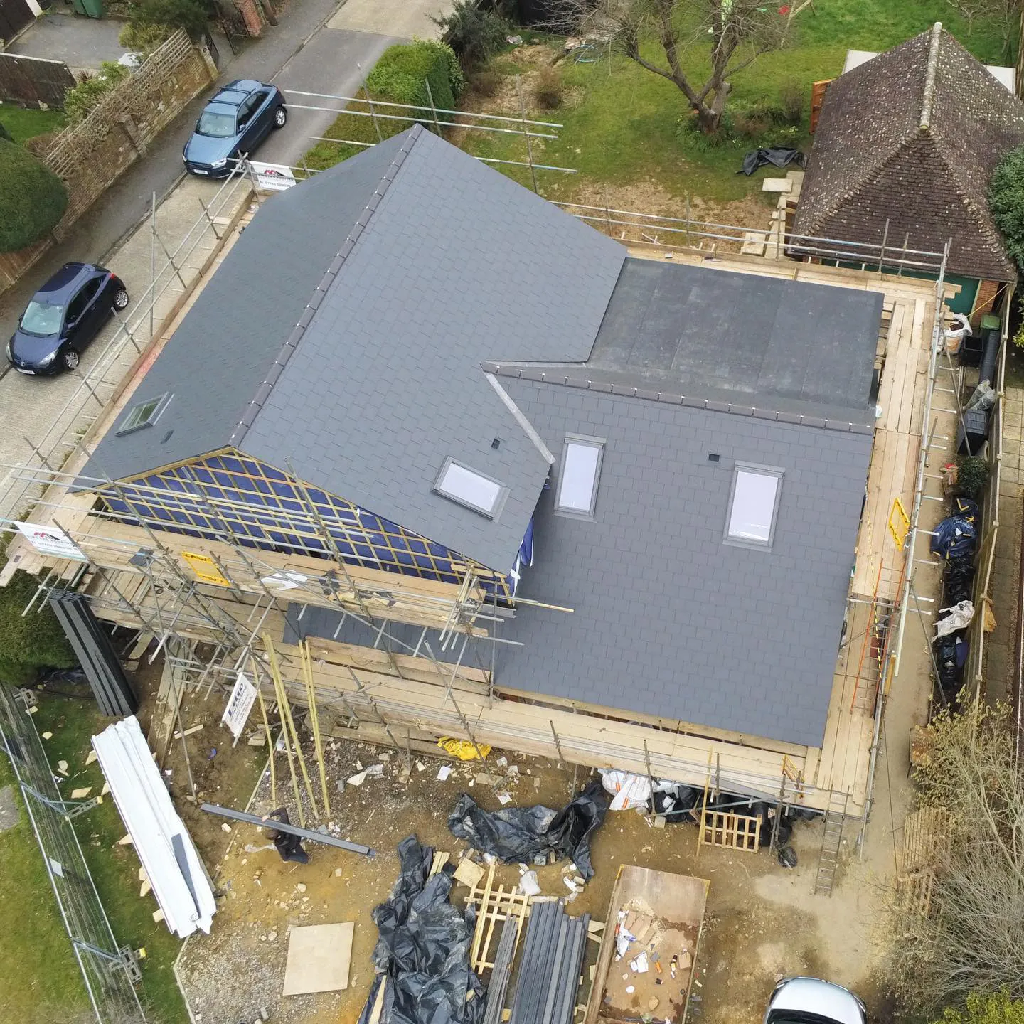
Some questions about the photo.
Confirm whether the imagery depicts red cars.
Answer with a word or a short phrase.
No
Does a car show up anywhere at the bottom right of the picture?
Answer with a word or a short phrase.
Yes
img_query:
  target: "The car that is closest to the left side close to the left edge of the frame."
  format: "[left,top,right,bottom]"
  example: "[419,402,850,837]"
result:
[0,261,124,380]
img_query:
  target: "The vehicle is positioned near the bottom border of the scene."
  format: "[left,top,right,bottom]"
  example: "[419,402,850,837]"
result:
[767,973,867,1024]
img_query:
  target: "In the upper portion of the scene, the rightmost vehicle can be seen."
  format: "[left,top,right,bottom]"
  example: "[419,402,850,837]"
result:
[169,77,286,181]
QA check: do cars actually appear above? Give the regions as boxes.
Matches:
[767,973,867,1024]
[0,261,124,380]
[169,77,286,181]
